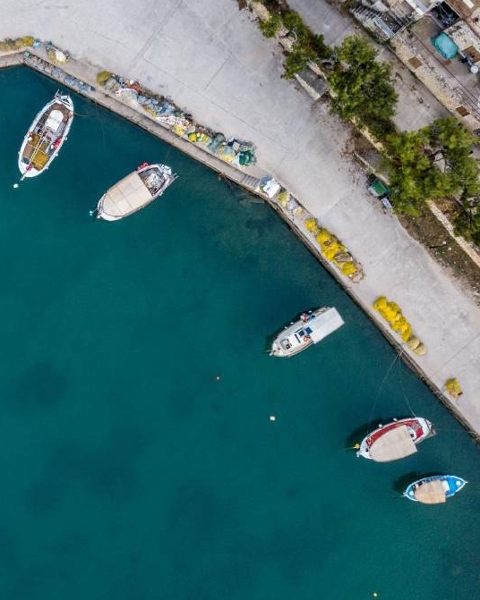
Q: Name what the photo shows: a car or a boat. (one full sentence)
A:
Of the two, only a boat appears.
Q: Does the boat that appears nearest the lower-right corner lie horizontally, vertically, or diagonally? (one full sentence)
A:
What the image shows is the boat that appears nearest the lower-right corner lying horizontally.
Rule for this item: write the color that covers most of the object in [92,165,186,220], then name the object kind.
white boat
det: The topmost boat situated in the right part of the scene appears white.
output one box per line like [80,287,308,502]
[268,302,347,356]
